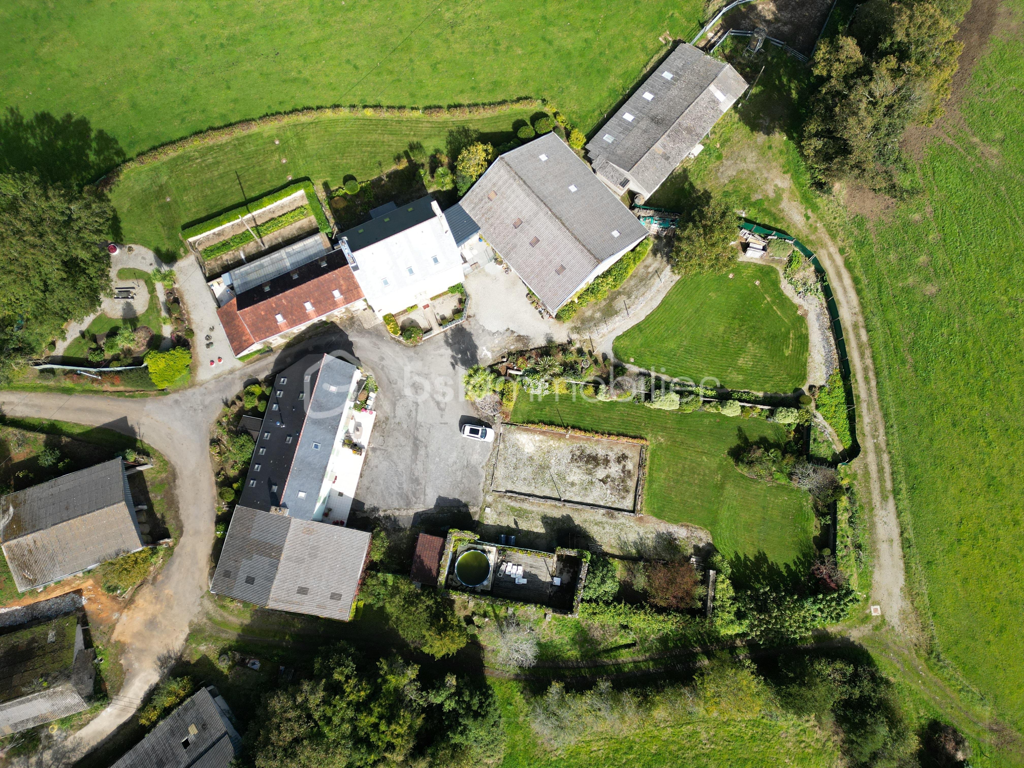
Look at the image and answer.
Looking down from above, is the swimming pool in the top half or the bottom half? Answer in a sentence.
The swimming pool is in the bottom half of the image.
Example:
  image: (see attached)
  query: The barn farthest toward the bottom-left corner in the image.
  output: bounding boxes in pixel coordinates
[0,615,102,734]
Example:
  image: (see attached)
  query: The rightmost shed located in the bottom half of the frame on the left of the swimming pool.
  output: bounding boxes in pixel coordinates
[410,533,449,586]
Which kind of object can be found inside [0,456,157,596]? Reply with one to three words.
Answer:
barn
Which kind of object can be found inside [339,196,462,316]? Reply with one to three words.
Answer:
house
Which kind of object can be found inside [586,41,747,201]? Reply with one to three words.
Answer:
barn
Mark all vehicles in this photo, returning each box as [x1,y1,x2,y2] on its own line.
[460,426,494,443]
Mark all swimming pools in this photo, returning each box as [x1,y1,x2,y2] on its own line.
[455,550,491,588]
